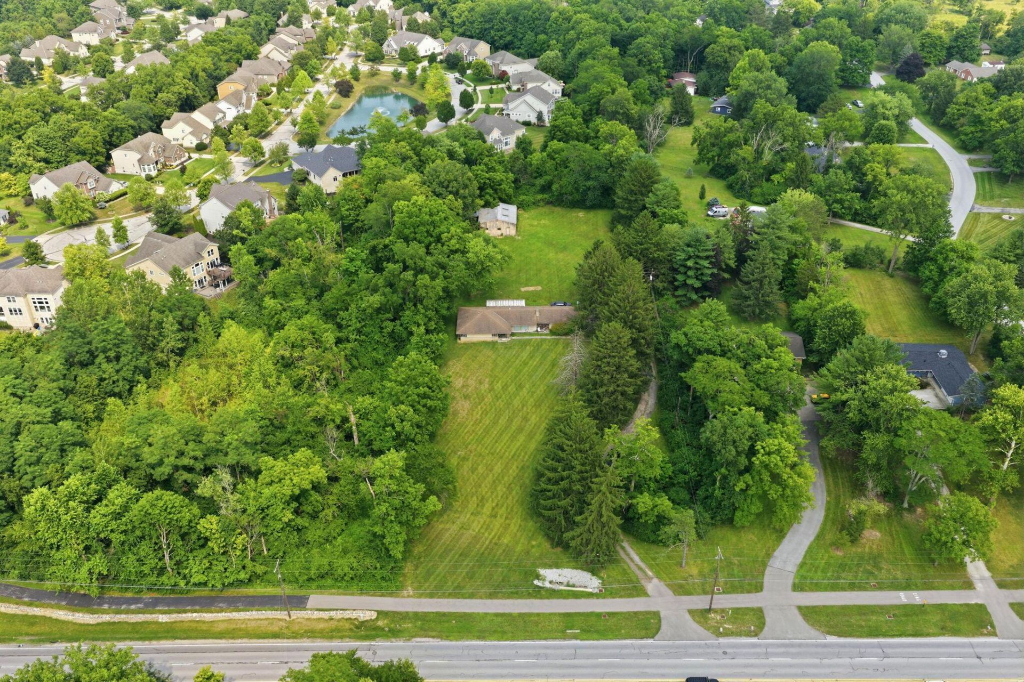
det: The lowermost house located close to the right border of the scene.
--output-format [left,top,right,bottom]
[899,337,992,408]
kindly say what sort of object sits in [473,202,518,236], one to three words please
barn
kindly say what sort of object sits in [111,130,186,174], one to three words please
house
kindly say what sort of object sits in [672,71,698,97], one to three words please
house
